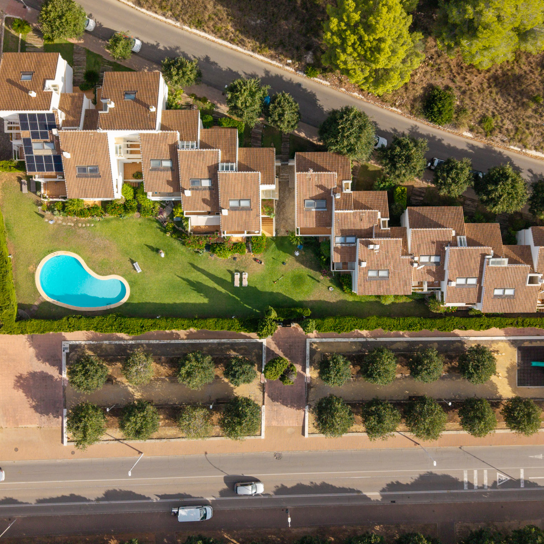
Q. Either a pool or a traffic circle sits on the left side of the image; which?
pool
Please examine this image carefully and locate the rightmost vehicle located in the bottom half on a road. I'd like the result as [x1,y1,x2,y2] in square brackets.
[233,480,264,496]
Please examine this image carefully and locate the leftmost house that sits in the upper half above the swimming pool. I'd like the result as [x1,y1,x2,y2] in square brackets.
[0,52,92,200]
